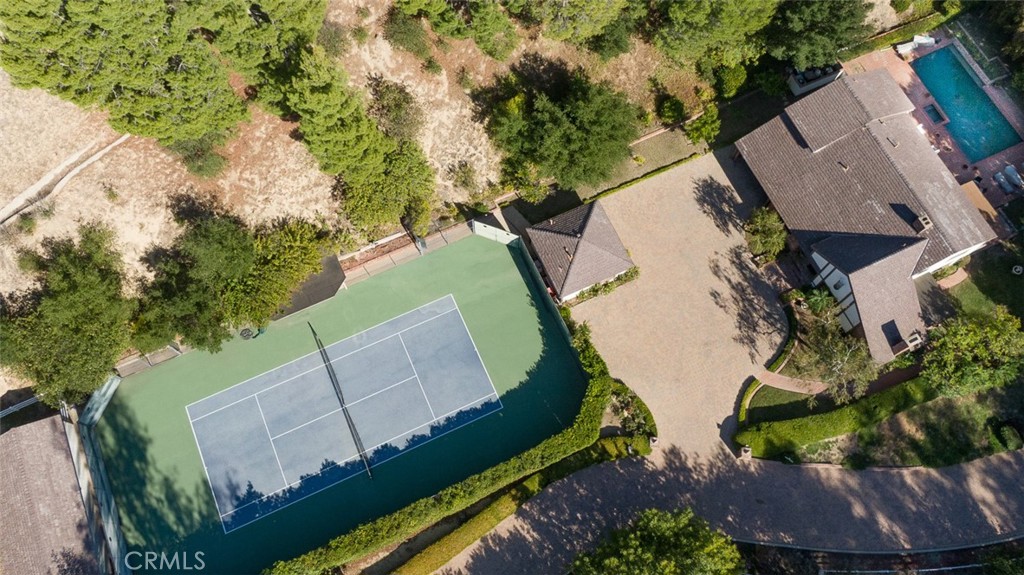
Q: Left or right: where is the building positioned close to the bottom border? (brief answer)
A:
left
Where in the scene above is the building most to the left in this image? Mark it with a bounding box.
[0,416,110,575]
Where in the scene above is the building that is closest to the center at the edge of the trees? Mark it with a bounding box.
[524,198,635,302]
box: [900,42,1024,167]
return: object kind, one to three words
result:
swimming pool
